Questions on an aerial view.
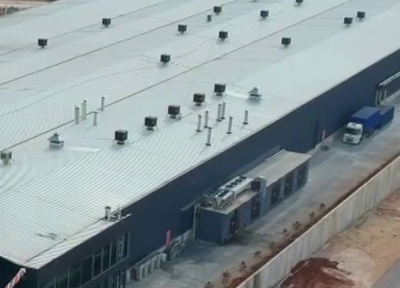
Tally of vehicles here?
1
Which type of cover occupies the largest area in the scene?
buildings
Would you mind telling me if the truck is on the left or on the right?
right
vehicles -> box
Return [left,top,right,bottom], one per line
[345,100,397,141]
